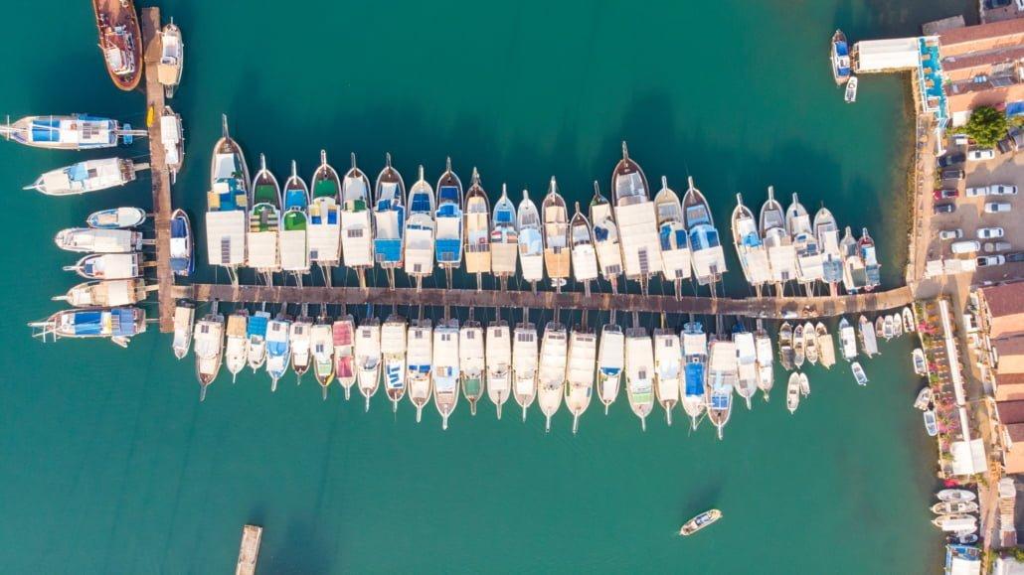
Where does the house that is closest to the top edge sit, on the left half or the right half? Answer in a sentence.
You can find the house that is closest to the top edge on the right side of the picture.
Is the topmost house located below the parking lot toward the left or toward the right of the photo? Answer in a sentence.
The topmost house located below the parking lot appears in the right half of the scene.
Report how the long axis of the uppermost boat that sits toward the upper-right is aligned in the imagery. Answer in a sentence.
What the image shows is the uppermost boat that sits toward the upper-right lying from top to bottom.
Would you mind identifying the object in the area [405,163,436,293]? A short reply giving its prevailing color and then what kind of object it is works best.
white boat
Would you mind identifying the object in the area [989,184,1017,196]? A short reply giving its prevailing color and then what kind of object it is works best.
white vehicle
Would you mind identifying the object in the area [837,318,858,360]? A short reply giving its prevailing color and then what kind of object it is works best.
white boat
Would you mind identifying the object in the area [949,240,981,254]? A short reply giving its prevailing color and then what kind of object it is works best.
white vehicle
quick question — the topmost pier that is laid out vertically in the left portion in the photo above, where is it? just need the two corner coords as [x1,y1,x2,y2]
[146,7,174,332]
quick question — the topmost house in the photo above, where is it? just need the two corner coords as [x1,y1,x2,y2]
[936,18,1024,58]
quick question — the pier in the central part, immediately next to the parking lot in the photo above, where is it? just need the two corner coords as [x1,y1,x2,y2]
[175,285,913,319]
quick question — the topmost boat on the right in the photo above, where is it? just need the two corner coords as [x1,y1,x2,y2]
[827,29,850,86]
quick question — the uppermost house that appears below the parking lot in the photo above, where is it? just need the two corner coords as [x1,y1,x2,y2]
[966,284,1024,339]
